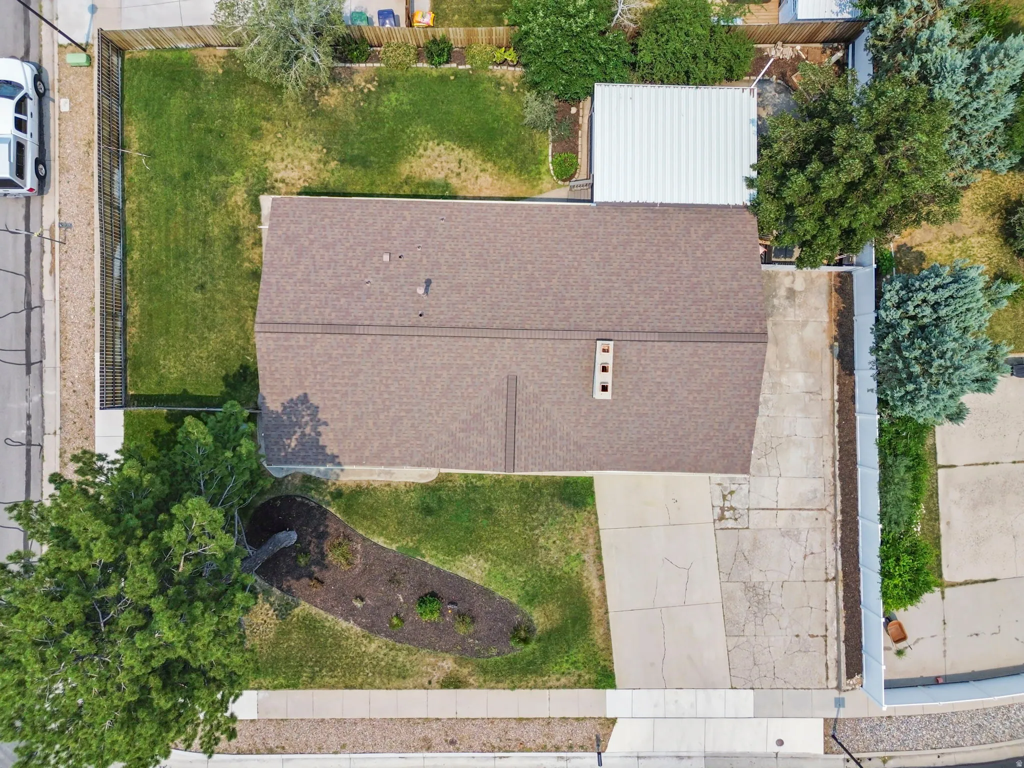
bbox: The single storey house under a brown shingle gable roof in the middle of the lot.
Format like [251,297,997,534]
[254,194,767,478]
